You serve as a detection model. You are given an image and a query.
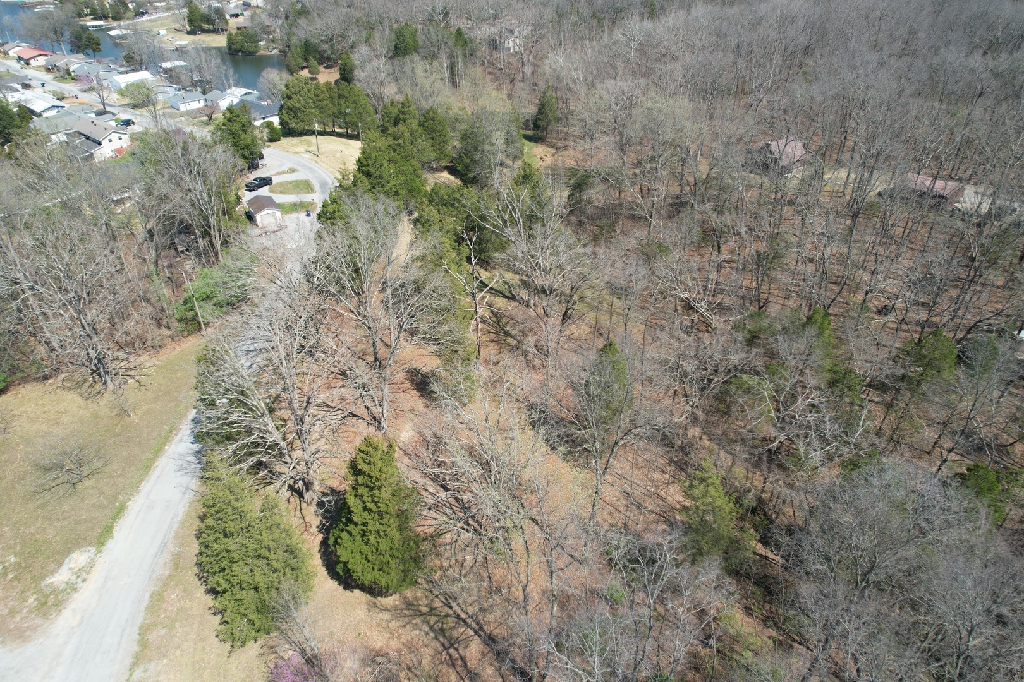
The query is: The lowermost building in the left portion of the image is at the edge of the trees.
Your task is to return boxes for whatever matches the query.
[247,193,284,232]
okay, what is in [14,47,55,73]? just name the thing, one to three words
house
